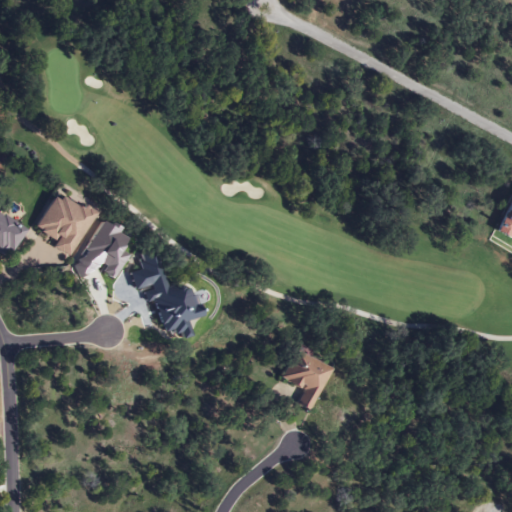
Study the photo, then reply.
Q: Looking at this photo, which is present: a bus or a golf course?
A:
golf course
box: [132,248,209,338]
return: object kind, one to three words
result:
house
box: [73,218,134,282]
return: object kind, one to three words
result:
house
